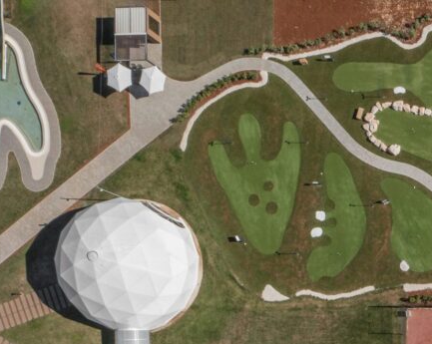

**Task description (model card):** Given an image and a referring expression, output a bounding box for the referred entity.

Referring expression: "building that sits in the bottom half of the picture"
[54,192,203,333]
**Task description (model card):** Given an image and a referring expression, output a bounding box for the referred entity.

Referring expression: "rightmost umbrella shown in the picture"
[140,64,168,96]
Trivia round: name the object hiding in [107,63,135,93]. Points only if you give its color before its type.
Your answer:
white umbrella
